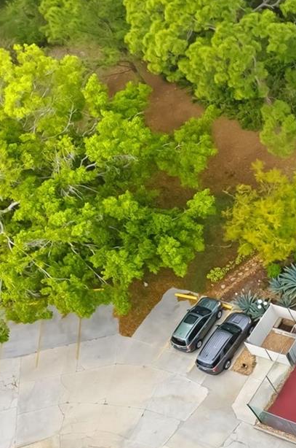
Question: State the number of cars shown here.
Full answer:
The count of cars comes to 2.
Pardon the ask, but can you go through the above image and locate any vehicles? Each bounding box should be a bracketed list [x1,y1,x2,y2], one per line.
[166,295,224,355]
[192,310,255,375]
